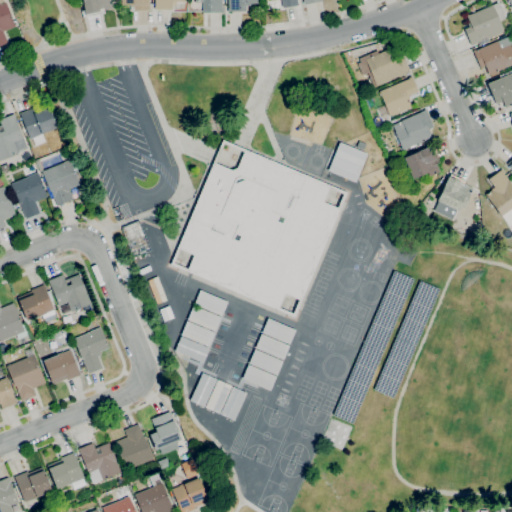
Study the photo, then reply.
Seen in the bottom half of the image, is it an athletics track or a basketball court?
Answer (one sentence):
It is a basketball court that can be seen in the bottom half of the image.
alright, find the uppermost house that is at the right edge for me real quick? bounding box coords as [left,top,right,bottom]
[466,5,506,46]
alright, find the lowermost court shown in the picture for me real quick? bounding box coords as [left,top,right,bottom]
[260,457,308,512]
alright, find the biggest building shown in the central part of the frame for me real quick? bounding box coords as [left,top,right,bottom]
[170,139,350,320]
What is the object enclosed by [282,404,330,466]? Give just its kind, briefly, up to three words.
basketball court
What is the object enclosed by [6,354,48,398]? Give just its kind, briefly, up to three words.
house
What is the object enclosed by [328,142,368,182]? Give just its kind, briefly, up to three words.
building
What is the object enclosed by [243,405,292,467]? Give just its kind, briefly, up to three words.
basketball court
